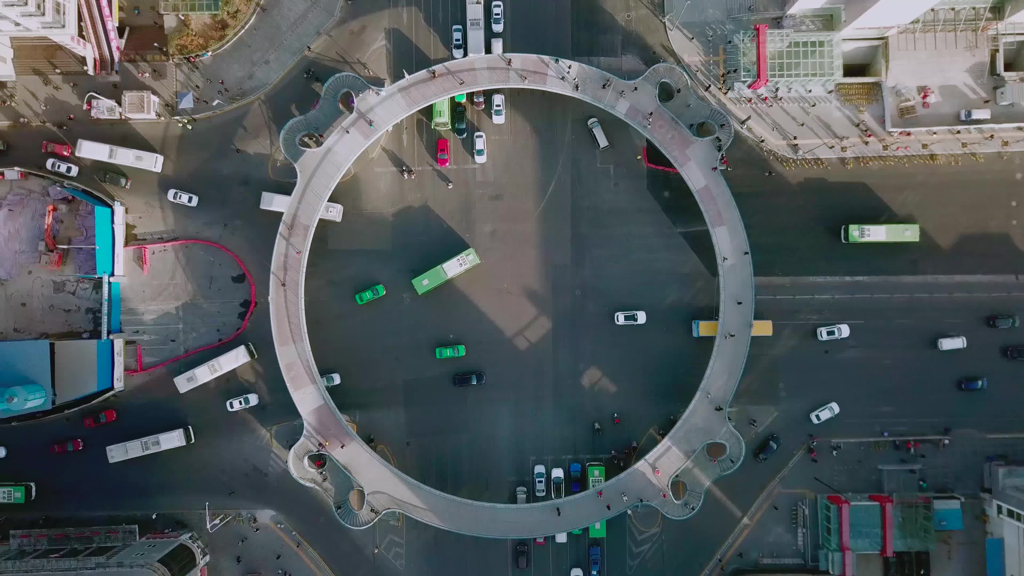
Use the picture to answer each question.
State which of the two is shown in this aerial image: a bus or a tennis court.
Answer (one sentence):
It is a bus that can be seen here.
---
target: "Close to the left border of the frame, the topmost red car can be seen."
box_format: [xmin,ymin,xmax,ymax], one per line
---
[42,140,74,156]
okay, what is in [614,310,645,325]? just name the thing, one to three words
car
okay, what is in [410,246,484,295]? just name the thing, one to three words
bus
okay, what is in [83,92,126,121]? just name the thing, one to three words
building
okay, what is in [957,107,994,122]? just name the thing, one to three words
vehicle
